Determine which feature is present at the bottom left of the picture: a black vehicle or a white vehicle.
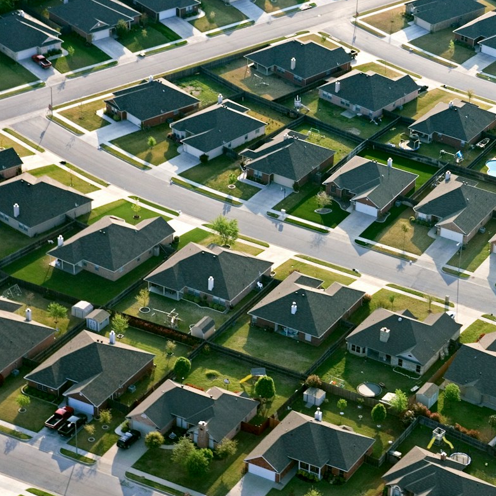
black vehicle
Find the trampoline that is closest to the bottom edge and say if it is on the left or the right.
right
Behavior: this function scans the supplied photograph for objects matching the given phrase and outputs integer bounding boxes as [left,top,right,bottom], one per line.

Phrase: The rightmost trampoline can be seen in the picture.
[448,445,475,466]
